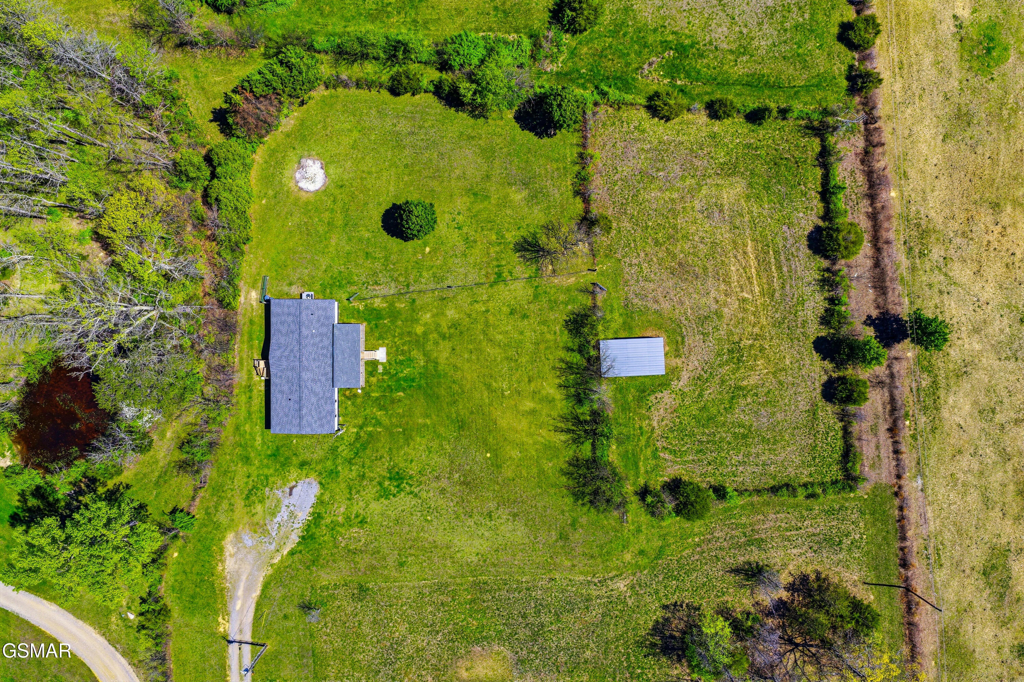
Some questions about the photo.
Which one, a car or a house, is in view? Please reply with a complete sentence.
I can see a house in this picture.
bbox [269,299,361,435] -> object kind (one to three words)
house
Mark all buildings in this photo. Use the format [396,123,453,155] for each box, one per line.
[269,299,361,435]
[599,337,665,377]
